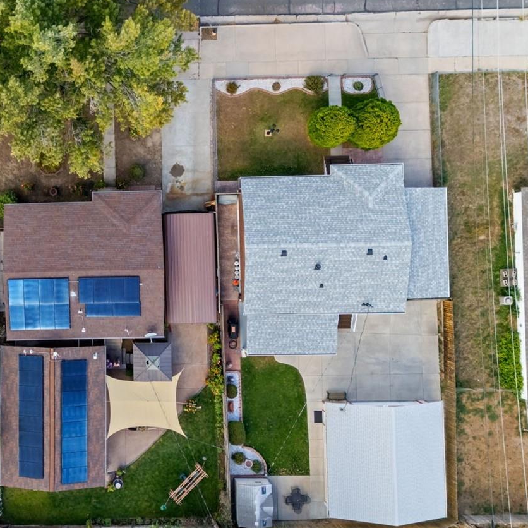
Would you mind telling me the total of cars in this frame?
0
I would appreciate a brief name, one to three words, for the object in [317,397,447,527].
building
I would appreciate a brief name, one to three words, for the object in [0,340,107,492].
building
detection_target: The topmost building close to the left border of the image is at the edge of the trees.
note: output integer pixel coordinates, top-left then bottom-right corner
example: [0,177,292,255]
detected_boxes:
[2,189,166,350]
